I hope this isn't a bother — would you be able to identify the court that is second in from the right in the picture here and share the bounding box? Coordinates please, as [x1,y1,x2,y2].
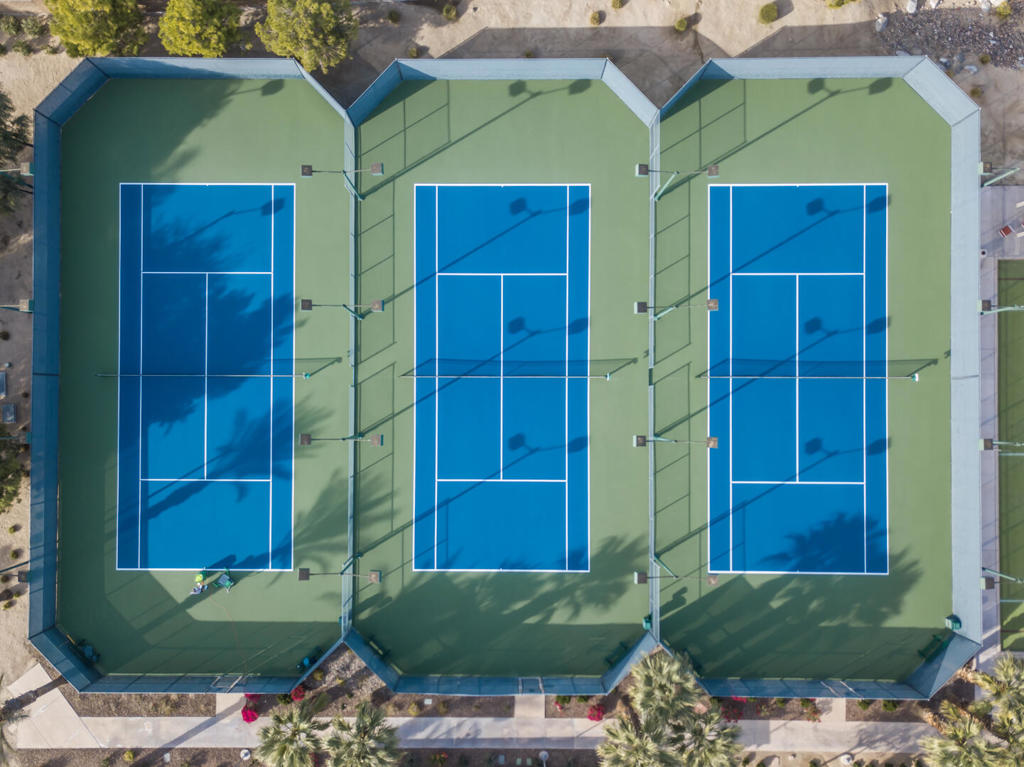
[650,78,954,683]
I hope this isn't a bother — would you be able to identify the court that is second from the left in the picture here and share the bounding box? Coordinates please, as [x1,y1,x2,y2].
[352,79,649,678]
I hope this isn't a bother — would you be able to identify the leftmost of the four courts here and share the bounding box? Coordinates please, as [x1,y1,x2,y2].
[56,79,354,676]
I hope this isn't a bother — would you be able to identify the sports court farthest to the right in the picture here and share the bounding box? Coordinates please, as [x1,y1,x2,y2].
[996,259,1024,653]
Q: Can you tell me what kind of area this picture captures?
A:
sports ground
